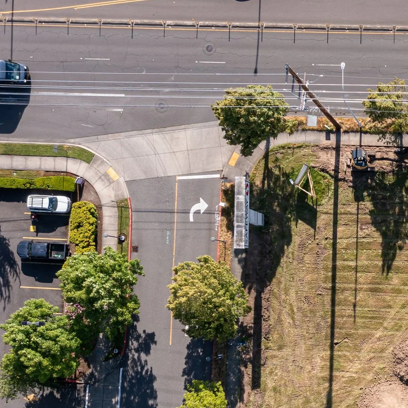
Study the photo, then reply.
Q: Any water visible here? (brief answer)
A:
No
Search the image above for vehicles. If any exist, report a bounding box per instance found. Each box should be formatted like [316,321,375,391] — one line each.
[23,192,72,216]
[16,238,70,261]
[348,142,408,176]
[0,59,31,86]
